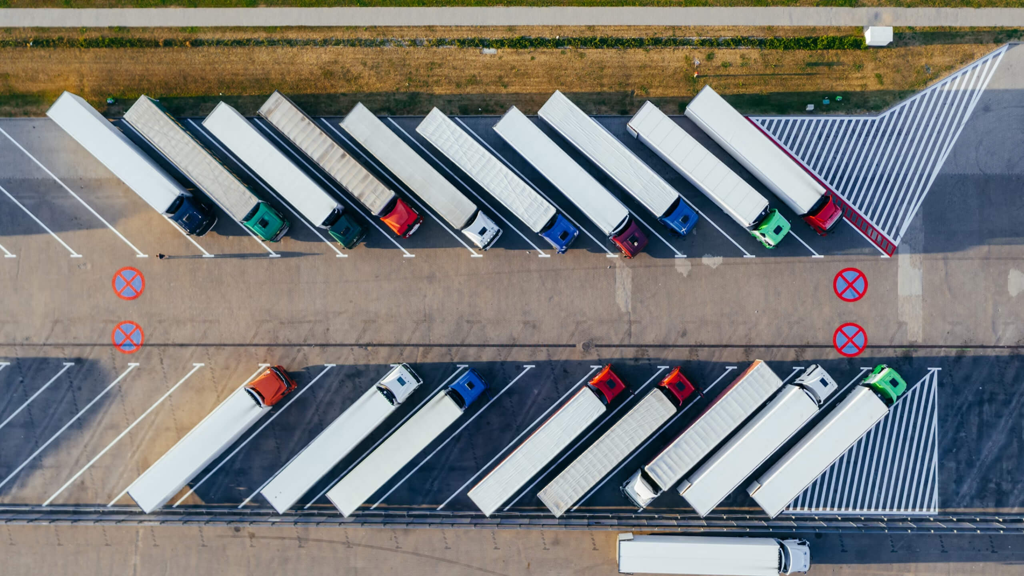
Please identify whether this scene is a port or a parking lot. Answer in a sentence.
The picture captures a parking lot.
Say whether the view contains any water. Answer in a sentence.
No, the picture contains no water.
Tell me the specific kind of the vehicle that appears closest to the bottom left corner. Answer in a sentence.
The vehicle that appears closest to the bottom left corner is a truck.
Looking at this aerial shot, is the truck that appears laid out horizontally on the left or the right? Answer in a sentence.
It is on the right.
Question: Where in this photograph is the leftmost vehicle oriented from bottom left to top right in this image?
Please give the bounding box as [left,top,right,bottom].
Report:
[127,362,300,513]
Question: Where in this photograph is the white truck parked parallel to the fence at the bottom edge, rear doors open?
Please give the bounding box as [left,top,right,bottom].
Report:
[619,532,811,575]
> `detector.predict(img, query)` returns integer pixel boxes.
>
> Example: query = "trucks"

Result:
[123,94,295,247]
[685,85,849,239]
[127,362,300,513]
[746,363,911,518]
[261,359,426,514]
[678,361,842,517]
[416,107,584,258]
[618,359,783,510]
[619,532,811,575]
[493,106,655,260]
[46,91,220,239]
[538,90,704,242]
[537,363,701,517]
[327,365,493,517]
[468,361,632,516]
[202,101,370,251]
[257,90,425,241]
[627,100,793,250]
[339,102,507,255]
